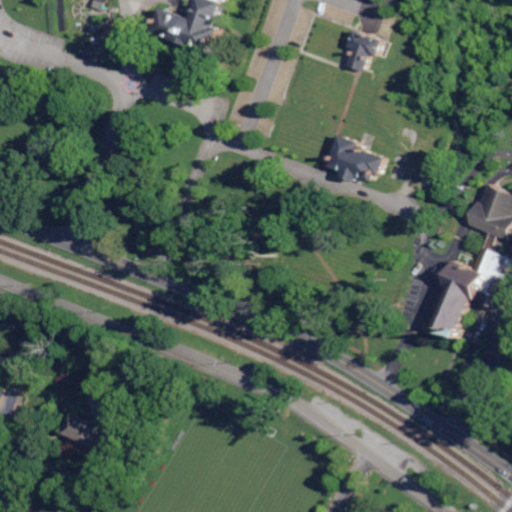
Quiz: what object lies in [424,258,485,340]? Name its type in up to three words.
building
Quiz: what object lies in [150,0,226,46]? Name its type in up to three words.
house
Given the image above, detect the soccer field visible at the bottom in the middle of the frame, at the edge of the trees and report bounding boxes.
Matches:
[137,404,324,512]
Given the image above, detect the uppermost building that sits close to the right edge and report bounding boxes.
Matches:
[468,186,512,236]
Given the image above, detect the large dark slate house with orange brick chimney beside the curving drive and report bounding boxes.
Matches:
[326,138,391,182]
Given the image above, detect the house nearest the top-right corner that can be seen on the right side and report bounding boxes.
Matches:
[346,30,396,71]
